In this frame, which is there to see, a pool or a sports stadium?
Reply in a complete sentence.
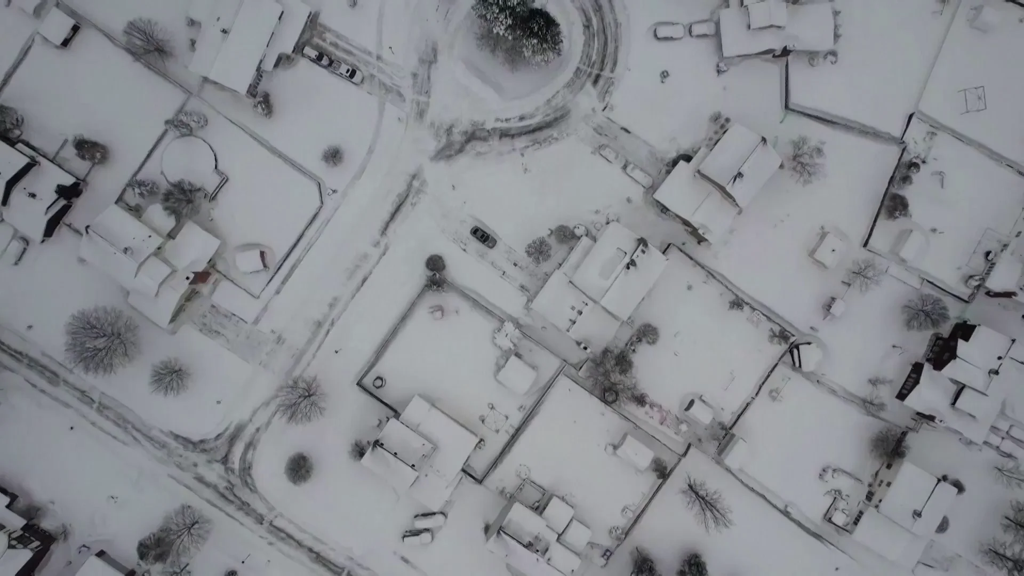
Visible in the photo is a pool.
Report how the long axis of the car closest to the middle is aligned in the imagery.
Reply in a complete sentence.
The car closest to the middle is oriented at an angle.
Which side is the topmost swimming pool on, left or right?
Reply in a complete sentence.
The topmost swimming pool appears in the left half of the scene.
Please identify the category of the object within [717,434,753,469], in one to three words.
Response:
shed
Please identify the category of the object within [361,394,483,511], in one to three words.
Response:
house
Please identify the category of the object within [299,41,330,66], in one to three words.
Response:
car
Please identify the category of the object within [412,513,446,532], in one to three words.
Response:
vehicle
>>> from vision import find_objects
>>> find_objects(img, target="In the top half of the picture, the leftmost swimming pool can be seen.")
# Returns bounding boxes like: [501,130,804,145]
[161,131,232,199]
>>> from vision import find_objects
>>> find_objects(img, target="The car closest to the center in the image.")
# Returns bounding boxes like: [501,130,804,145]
[469,224,497,249]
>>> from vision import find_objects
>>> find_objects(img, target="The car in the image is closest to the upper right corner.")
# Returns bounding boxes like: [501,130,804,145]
[690,19,718,35]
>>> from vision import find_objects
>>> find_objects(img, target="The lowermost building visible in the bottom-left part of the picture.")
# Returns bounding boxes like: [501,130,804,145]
[73,546,140,576]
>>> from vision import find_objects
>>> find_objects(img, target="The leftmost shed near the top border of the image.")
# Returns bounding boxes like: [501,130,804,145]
[37,6,85,50]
